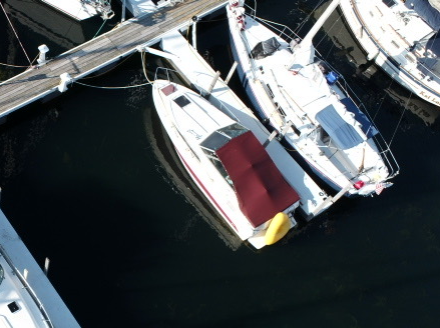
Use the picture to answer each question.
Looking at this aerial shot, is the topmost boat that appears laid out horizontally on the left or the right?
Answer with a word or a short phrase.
left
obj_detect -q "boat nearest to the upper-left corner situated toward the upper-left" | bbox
[41,0,111,34]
